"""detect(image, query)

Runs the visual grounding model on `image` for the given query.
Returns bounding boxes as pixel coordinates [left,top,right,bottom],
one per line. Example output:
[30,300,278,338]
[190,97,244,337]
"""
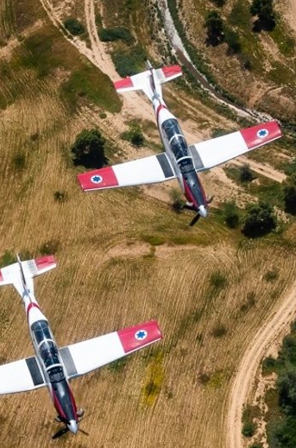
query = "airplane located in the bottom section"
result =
[0,255,163,442]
